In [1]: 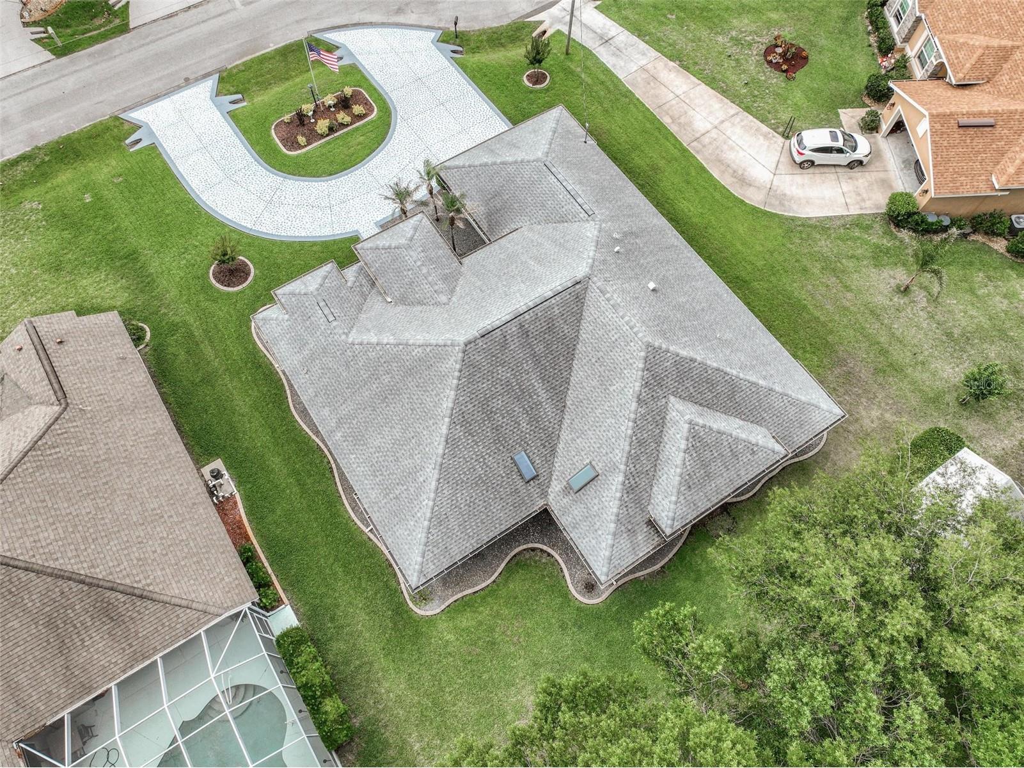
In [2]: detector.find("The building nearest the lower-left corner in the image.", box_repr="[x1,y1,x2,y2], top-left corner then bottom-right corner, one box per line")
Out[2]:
[0,311,262,768]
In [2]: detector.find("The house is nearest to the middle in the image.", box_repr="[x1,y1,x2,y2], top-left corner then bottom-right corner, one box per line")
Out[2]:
[246,103,851,603]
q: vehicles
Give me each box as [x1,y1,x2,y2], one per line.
[787,127,874,170]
